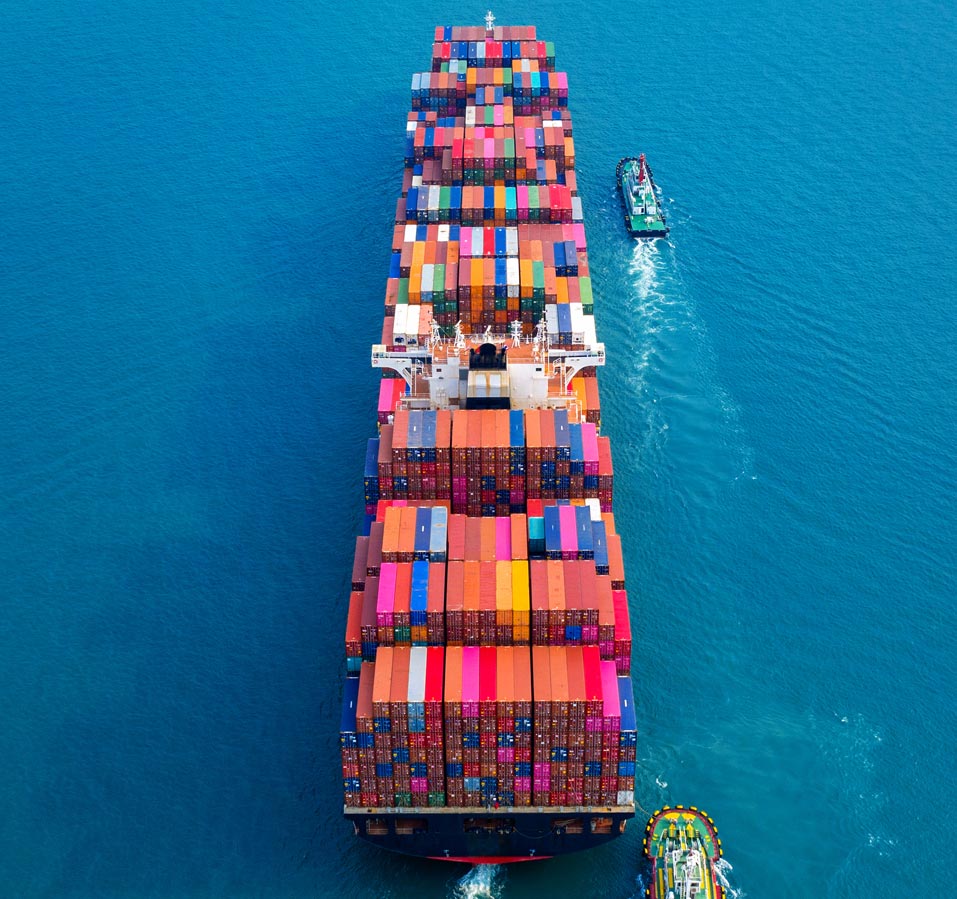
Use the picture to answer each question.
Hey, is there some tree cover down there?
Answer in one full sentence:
No, there's no tree cover in this view.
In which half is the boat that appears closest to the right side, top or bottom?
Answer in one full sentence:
Seen from above, the boat that appears closest to the right side lies in the bottom half of the view.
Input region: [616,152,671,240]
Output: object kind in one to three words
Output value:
boat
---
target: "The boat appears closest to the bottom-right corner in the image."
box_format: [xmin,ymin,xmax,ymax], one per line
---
[645,802,724,899]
